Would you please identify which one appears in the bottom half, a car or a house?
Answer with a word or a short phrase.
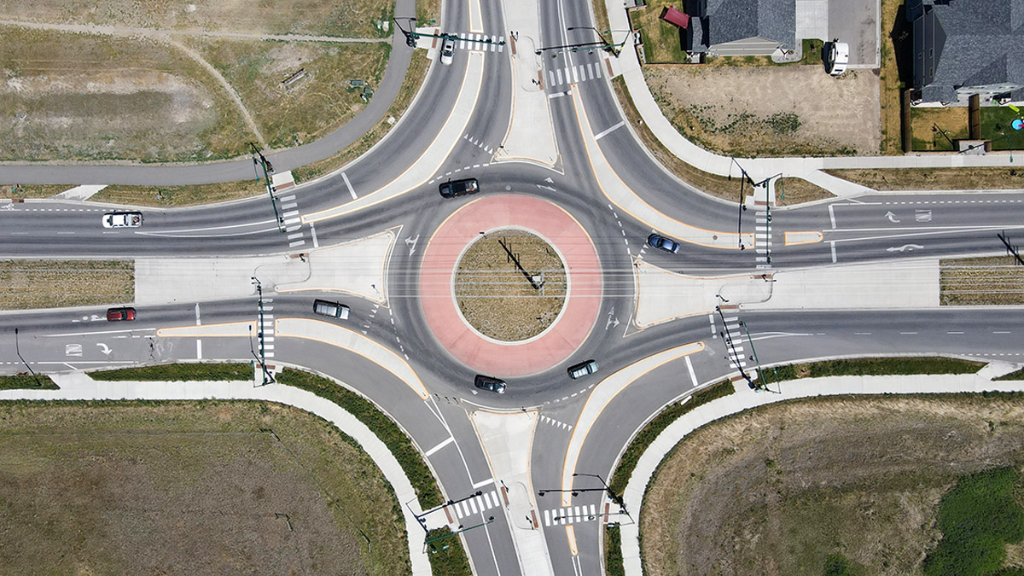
car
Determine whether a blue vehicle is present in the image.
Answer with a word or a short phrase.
Yes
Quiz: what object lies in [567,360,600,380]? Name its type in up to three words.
car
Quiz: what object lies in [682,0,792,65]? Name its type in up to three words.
house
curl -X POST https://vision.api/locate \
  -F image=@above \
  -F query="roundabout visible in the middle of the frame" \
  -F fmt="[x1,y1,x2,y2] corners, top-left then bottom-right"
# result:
[386,160,637,411]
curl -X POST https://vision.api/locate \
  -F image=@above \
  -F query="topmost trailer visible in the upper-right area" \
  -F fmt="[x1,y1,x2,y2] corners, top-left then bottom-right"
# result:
[826,41,850,78]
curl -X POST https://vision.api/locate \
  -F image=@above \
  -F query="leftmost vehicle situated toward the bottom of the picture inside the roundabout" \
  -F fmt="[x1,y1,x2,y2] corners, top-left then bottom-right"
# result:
[475,376,508,394]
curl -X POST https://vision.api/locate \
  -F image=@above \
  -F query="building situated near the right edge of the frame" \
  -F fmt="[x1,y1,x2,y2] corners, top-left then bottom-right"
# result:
[901,0,1024,106]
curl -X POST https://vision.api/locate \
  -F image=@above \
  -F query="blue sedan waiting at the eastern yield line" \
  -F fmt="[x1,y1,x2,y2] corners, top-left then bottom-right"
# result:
[647,235,681,254]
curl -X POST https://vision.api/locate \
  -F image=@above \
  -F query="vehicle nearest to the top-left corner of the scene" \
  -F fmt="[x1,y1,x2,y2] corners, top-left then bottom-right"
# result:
[102,212,144,228]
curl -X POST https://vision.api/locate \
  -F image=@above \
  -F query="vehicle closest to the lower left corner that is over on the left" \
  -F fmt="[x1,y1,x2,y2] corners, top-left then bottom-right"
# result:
[105,308,138,323]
